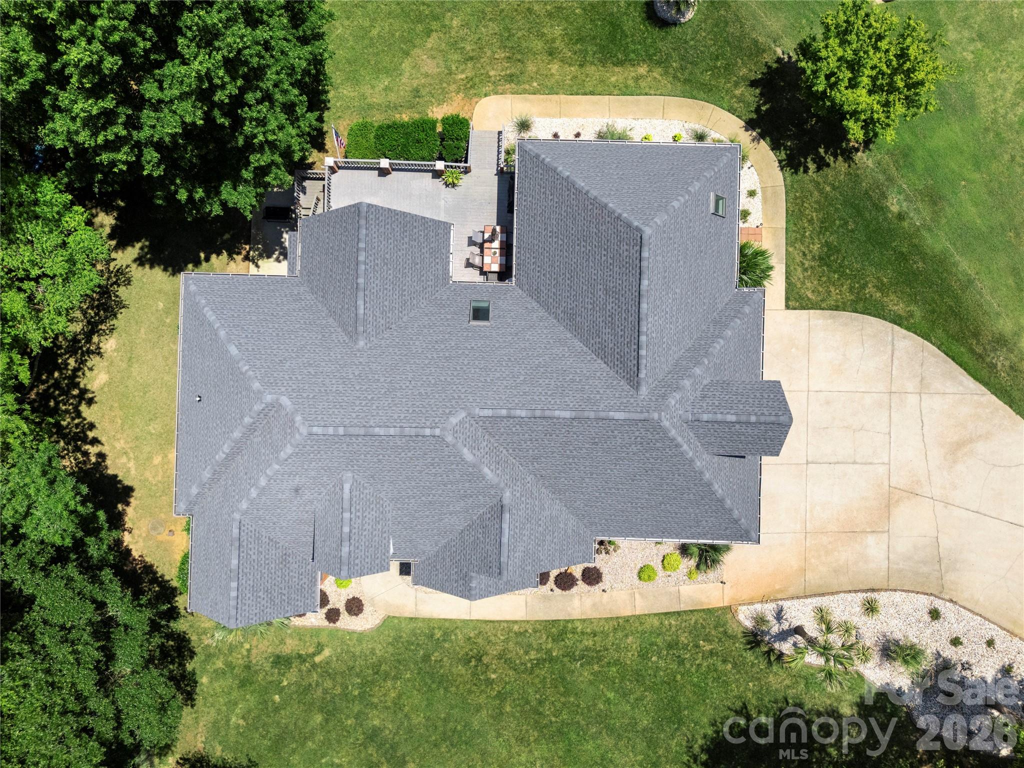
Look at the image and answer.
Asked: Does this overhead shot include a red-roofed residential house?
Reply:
No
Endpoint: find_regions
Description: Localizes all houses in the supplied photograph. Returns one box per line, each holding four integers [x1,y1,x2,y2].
[176,141,792,629]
